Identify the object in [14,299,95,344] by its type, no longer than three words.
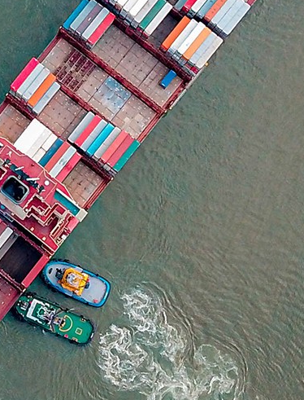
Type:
boat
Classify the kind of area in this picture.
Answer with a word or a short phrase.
port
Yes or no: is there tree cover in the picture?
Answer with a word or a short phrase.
No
